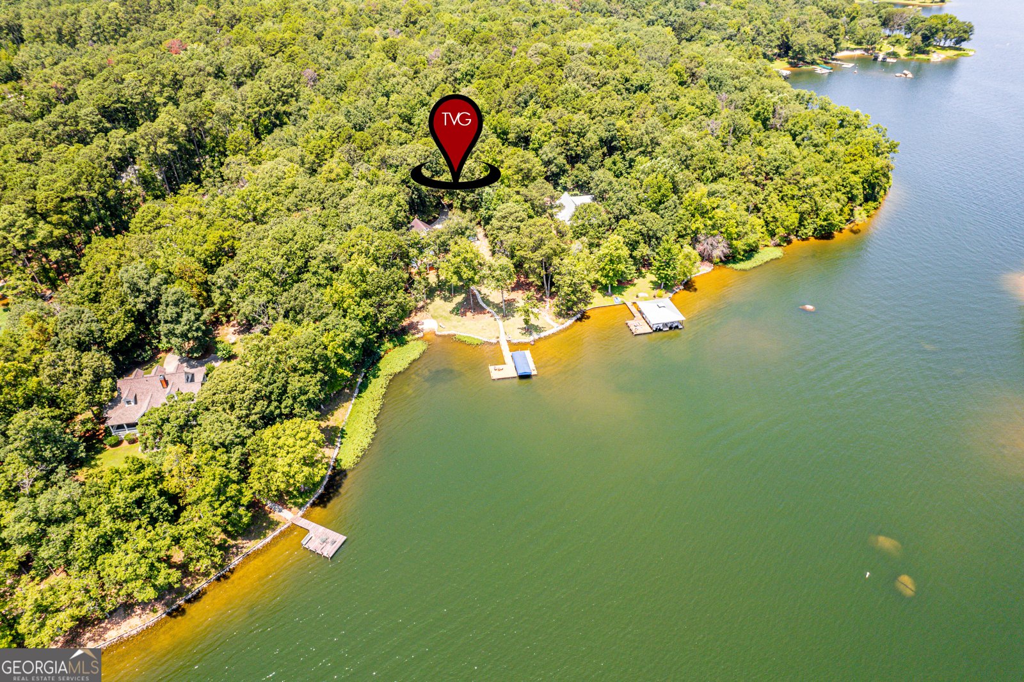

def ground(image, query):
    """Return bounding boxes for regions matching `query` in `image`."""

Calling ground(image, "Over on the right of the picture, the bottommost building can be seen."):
[637,298,686,340]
